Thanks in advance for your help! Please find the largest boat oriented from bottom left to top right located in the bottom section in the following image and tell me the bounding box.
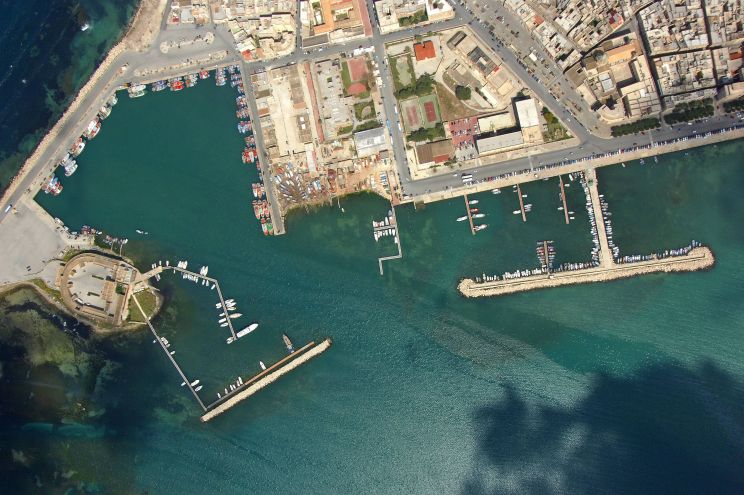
[235,324,258,339]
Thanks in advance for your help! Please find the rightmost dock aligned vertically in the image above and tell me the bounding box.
[583,168,618,267]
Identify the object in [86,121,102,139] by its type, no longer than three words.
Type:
boat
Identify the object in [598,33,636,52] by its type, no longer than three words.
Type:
building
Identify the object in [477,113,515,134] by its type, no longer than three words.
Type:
shed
